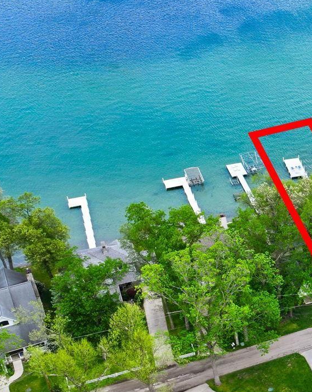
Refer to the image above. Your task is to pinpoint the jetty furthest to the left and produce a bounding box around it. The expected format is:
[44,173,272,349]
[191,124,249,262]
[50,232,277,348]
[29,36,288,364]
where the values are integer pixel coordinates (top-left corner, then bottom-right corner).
[65,190,94,241]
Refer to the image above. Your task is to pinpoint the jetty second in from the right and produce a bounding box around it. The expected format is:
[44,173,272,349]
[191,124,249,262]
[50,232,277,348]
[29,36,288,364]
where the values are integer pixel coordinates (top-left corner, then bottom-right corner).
[226,163,257,206]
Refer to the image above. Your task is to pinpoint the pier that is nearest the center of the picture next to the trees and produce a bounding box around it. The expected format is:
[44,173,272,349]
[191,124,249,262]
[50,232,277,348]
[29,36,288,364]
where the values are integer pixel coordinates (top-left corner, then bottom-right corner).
[162,174,206,224]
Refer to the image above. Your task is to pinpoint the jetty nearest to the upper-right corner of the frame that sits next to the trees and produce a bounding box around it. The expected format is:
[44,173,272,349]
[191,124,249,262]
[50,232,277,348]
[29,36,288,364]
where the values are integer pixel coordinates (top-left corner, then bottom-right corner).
[282,152,310,182]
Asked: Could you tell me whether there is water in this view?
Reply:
Yes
